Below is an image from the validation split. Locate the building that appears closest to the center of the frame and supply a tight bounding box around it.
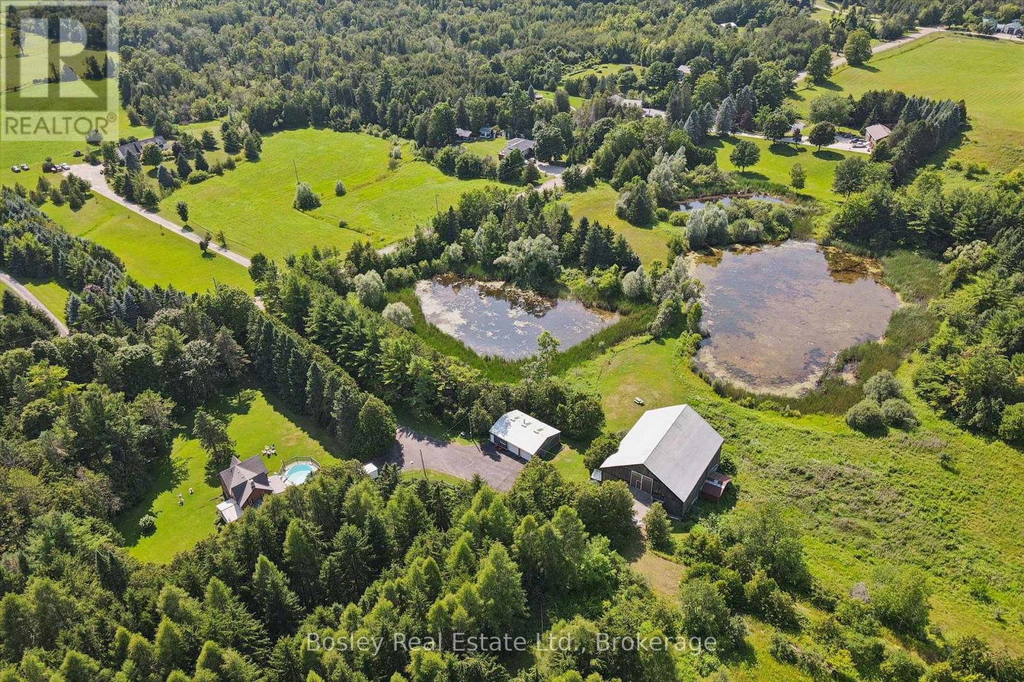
[489,410,561,459]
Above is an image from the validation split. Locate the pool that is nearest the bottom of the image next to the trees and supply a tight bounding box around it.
[278,458,319,492]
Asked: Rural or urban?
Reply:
rural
